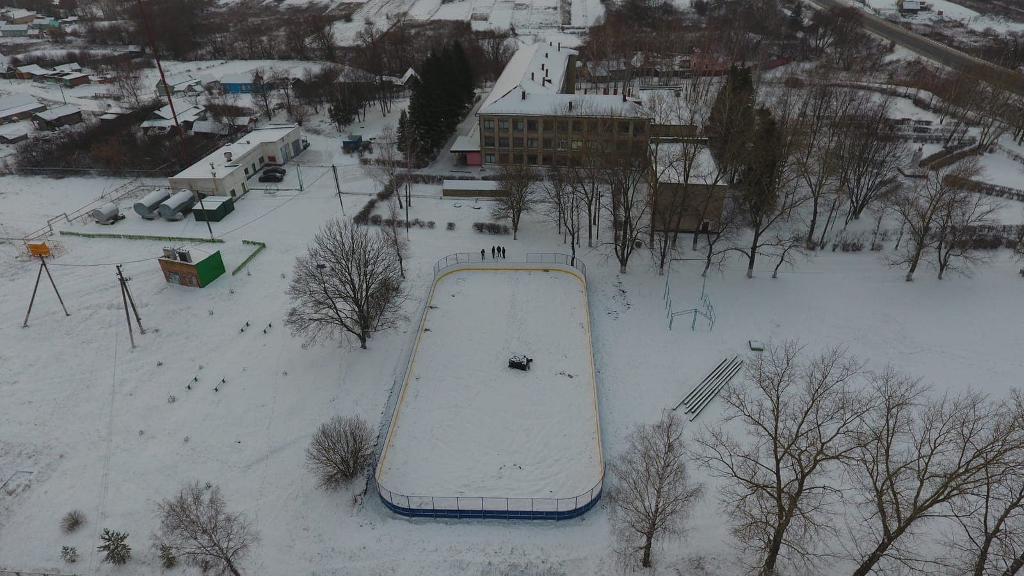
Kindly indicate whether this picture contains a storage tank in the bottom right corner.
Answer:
No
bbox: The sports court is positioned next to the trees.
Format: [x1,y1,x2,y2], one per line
[378,262,602,521]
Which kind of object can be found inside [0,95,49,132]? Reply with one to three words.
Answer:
house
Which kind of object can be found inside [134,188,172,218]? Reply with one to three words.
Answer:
storage tank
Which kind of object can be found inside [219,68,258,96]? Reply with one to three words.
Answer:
house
